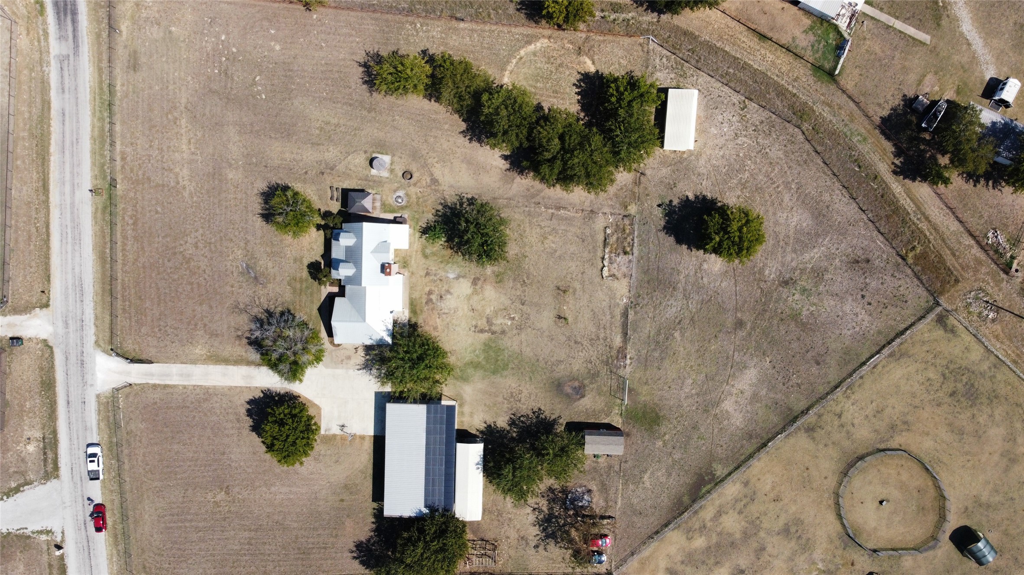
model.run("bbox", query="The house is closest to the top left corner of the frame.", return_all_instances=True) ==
[330,221,411,345]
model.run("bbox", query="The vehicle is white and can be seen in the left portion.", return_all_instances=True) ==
[85,445,105,482]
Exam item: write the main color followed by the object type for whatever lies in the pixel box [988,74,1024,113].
white trailer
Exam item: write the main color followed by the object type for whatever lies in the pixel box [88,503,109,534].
red car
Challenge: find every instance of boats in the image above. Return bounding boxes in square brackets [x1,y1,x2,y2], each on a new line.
[924,101,946,130]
